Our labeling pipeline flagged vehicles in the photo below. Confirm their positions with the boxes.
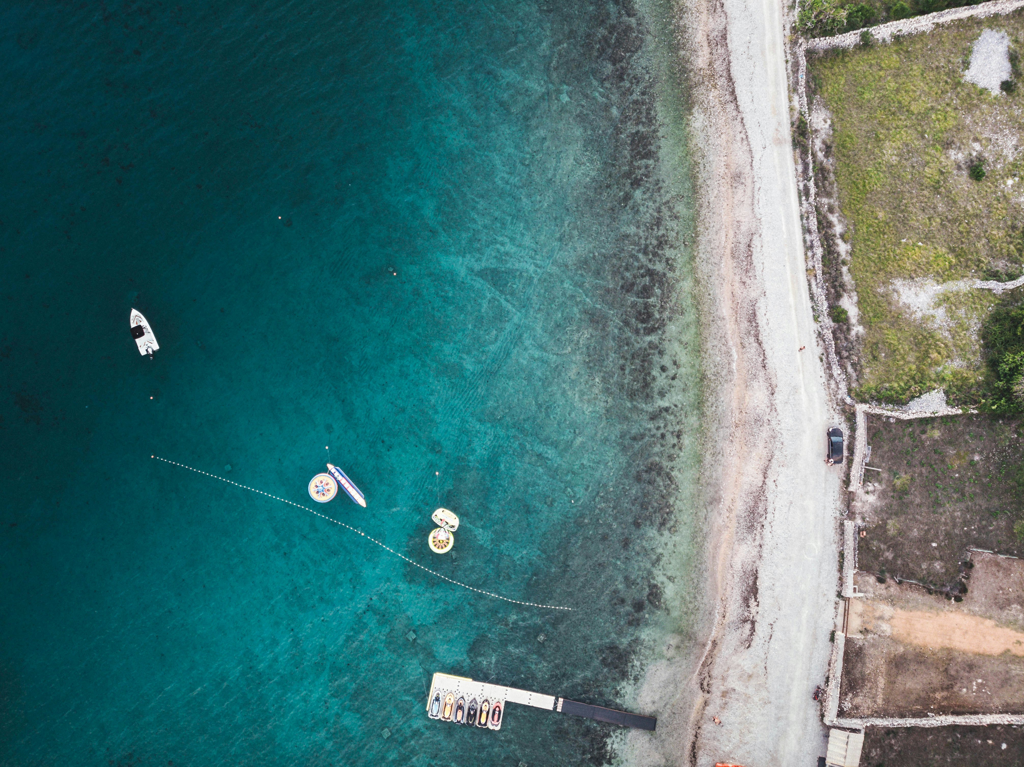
[826,427,846,464]
[812,684,822,703]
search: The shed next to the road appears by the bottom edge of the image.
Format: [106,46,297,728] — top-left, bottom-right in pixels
[815,720,864,767]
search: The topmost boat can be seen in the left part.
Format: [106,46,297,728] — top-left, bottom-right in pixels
[129,308,160,359]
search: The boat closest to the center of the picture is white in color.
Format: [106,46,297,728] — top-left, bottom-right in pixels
[327,464,367,507]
